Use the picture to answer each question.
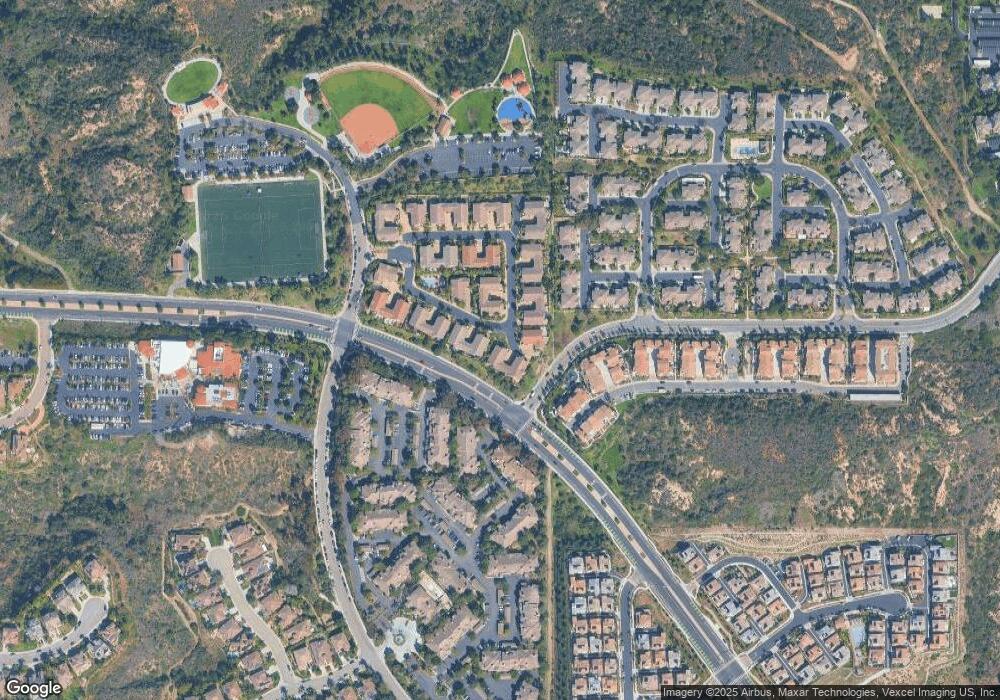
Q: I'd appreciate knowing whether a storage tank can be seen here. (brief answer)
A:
No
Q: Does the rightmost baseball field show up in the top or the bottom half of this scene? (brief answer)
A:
top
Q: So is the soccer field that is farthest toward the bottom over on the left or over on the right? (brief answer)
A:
left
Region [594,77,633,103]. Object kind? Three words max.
building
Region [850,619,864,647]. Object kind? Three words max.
swimming pool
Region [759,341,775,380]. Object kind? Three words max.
house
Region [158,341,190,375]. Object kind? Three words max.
building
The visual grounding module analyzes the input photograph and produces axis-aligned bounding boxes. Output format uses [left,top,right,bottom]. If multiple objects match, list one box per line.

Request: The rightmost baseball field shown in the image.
[319,62,447,158]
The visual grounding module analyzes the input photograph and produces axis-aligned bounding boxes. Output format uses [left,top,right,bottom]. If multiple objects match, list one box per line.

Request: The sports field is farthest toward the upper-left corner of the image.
[162,57,223,108]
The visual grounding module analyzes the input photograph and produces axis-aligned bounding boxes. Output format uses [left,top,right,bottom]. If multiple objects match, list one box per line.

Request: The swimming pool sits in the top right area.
[730,138,760,158]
